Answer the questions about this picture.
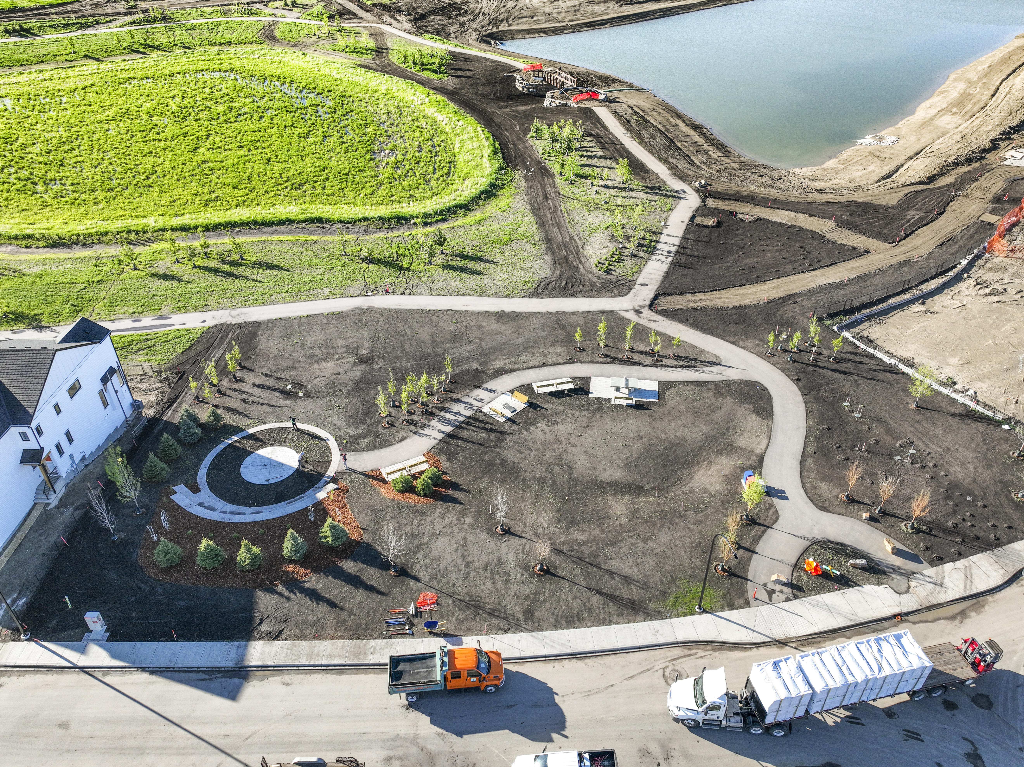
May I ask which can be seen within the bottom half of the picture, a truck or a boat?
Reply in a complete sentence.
It is a truck that can be seen within the bottom half of the picture.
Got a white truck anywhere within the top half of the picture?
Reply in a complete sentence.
No, the scene shows no white truck within the top half of the picture.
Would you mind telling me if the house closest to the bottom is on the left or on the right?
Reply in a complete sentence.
The house closest to the bottom appears in the left half of the scene.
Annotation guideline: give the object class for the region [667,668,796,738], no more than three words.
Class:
truck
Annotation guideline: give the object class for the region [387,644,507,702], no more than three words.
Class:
truck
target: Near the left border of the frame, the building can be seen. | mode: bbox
[0,319,134,528]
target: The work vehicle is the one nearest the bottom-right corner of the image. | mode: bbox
[954,635,1010,685]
